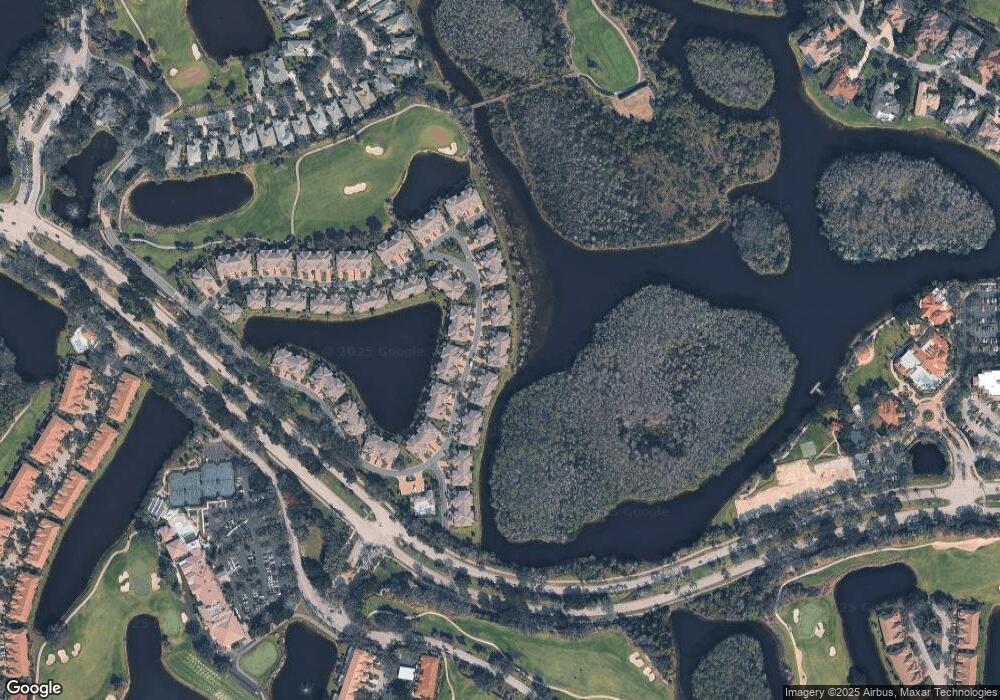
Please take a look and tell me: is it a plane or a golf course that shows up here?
golf course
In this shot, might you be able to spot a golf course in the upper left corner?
Yes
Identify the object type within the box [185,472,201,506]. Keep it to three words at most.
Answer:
tennis court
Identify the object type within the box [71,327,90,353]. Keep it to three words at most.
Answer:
swimming pool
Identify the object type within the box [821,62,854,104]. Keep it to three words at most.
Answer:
house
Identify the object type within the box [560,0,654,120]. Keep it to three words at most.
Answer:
golf course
